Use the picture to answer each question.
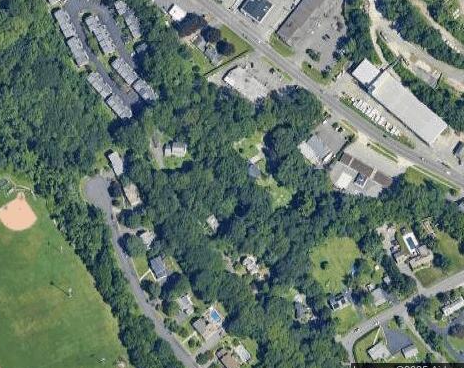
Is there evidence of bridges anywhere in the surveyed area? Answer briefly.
No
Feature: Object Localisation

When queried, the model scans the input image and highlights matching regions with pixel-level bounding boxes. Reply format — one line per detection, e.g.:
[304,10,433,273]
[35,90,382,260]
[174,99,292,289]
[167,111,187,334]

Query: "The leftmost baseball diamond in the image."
[0,189,36,230]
